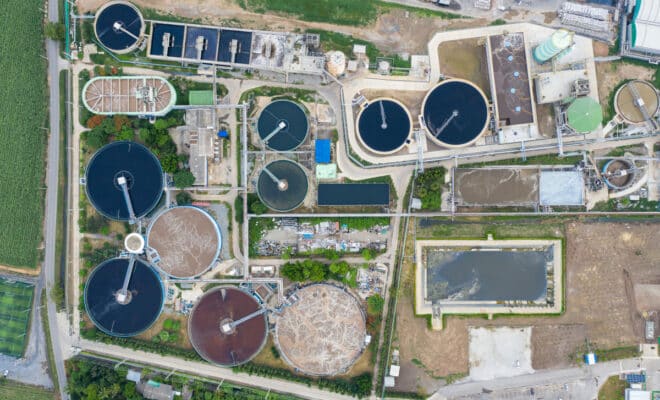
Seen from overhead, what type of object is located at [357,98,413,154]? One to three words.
storage tank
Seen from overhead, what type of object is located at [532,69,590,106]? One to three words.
building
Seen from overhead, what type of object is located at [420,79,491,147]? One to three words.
storage tank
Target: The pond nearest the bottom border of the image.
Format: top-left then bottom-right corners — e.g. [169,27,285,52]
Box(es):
[415,233,563,330]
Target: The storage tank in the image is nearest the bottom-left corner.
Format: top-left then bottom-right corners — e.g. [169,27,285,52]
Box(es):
[84,256,168,338]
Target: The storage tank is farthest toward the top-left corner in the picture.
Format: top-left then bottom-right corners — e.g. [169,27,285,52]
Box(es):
[93,1,147,54]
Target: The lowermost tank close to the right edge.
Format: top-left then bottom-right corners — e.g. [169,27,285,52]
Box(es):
[600,160,648,189]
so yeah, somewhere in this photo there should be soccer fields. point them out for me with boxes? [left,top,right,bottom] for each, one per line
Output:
[0,280,34,361]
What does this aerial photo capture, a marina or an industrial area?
industrial area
